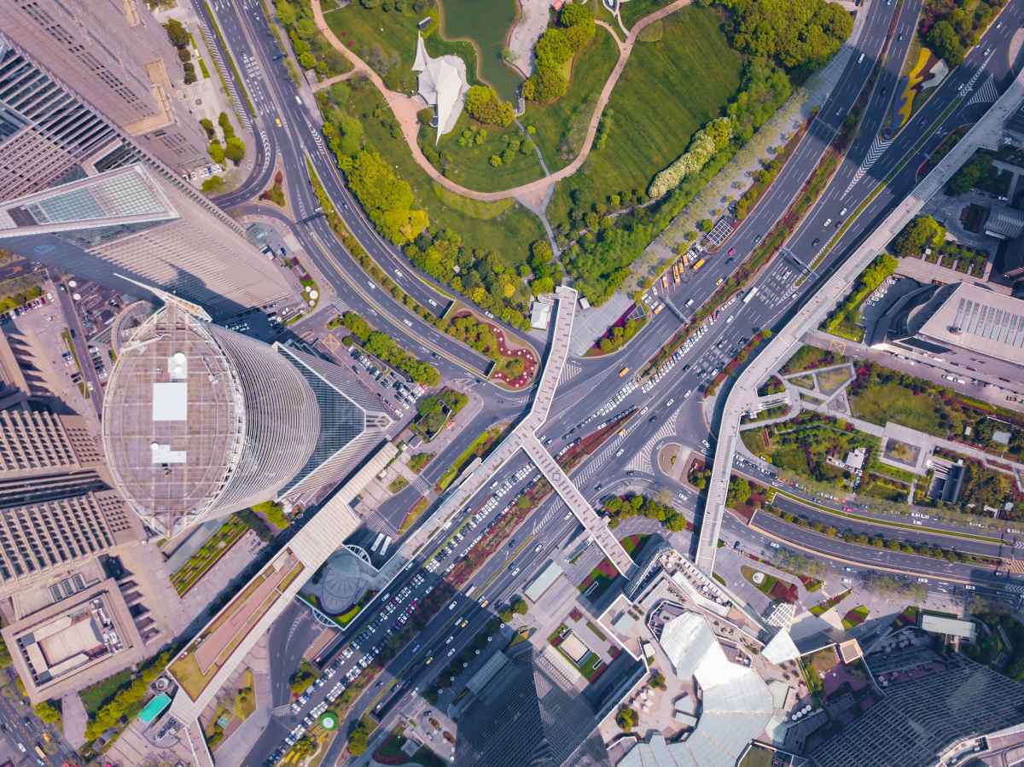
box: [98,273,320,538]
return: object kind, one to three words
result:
building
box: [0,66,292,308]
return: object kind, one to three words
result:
building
